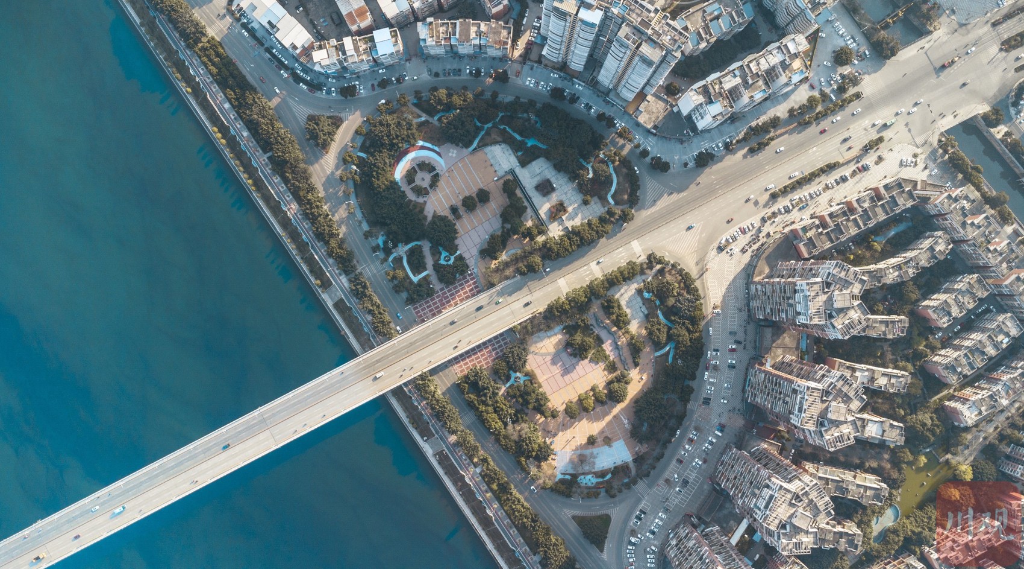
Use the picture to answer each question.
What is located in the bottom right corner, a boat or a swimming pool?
swimming pool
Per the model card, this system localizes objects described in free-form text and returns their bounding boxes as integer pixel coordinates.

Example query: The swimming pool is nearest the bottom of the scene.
[873,505,900,542]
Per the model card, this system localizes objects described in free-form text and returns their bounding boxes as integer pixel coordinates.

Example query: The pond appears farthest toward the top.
[899,451,954,517]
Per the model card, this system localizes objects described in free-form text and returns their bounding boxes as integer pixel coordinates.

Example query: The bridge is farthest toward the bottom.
[0,226,645,569]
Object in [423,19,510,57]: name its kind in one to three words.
building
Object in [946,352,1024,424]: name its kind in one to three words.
building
